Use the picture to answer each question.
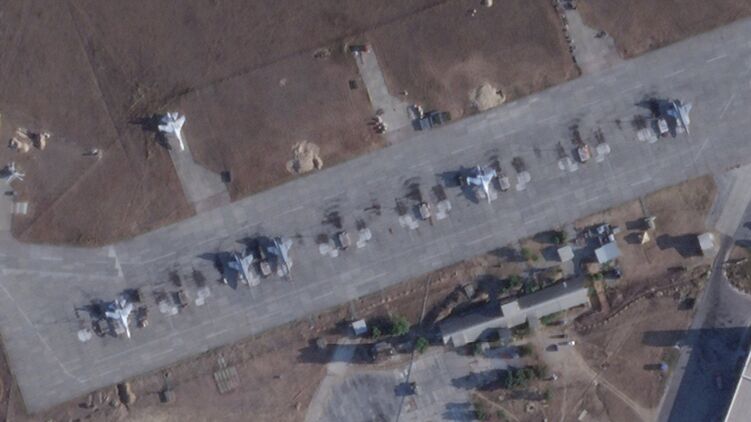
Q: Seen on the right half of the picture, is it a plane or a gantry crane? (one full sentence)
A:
The feature located on the right half of the picture is a plane.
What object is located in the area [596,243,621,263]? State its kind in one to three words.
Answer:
building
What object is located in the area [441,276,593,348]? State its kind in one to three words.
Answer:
building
